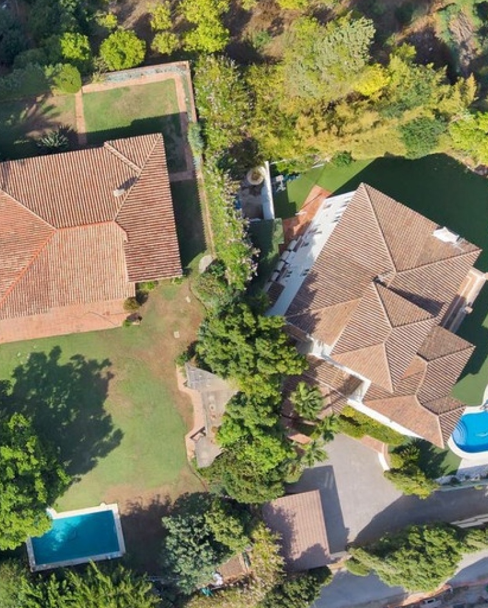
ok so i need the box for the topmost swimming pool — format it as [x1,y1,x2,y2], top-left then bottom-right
[446,386,488,464]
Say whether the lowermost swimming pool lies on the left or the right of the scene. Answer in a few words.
left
